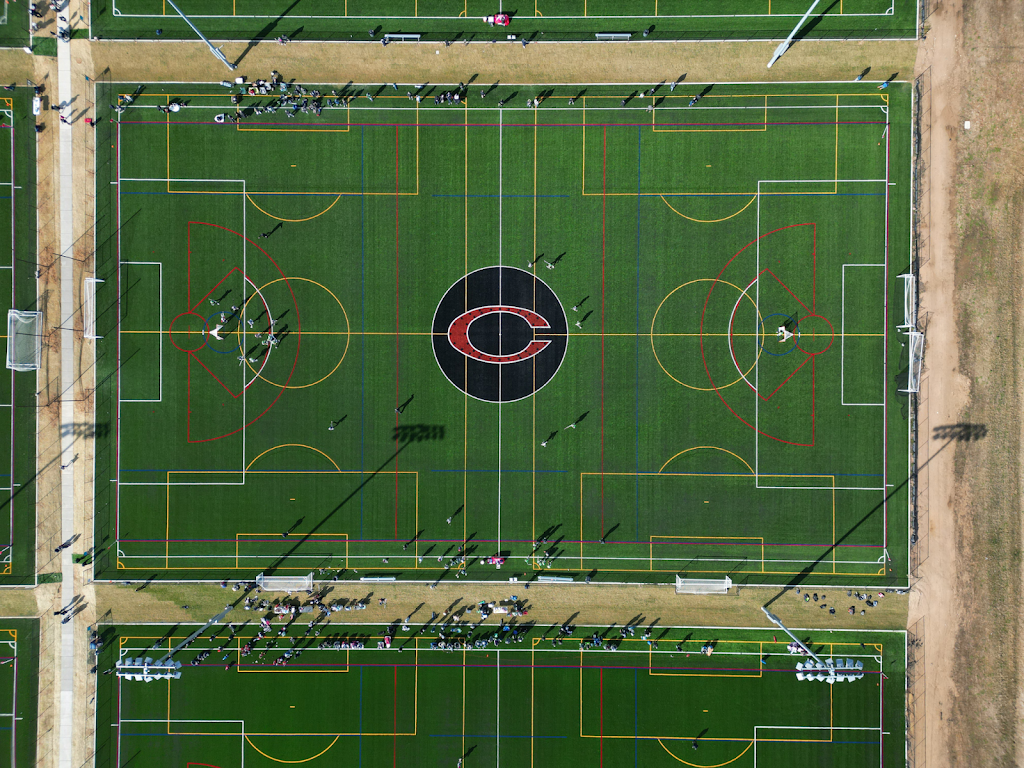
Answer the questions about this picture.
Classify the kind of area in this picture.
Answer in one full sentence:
It's a sports ground.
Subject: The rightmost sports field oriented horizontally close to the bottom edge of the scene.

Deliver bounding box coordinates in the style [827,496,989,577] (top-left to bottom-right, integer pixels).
[94,624,908,768]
